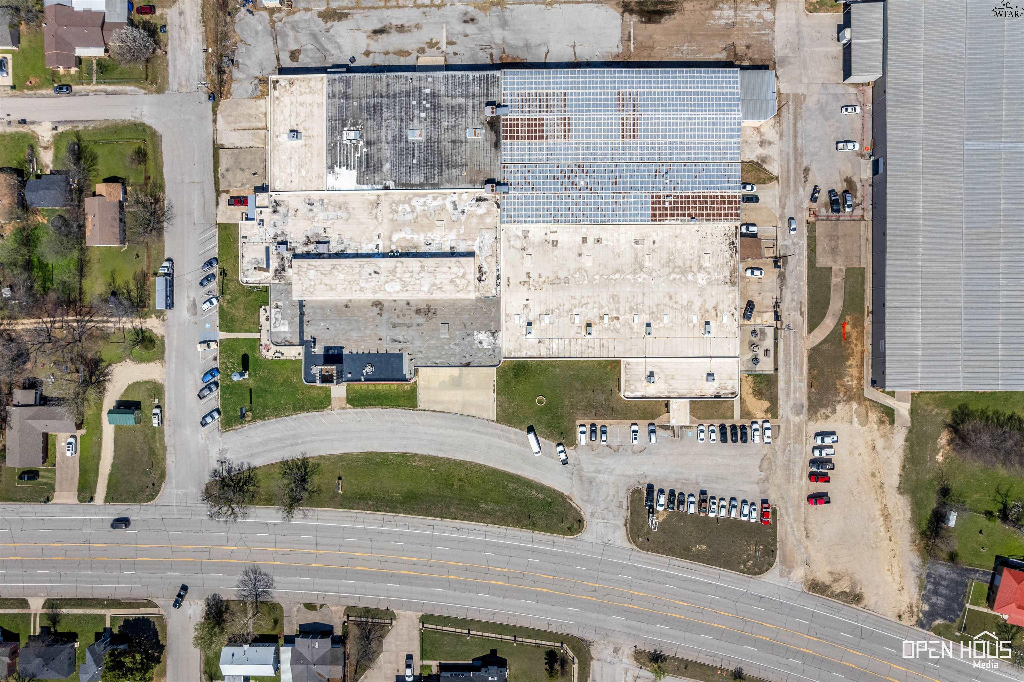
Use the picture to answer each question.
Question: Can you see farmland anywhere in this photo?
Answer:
No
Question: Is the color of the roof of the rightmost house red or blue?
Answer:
red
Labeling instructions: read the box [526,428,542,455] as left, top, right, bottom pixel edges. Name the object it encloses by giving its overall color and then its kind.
white vehicle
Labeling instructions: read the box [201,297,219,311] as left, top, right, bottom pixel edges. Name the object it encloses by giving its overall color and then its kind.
white car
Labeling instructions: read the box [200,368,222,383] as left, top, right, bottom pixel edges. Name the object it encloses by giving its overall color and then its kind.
blue vehicle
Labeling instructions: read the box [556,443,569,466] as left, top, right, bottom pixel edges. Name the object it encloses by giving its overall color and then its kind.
white vehicle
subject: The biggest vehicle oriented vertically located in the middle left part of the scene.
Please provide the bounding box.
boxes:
[156,260,172,309]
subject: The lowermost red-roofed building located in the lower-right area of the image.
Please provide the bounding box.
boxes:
[983,555,1024,623]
